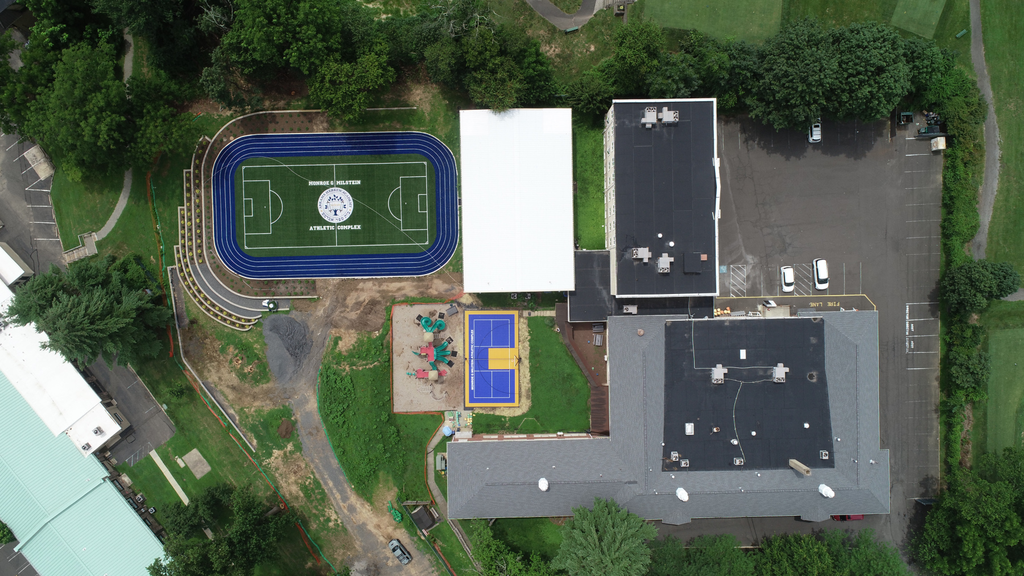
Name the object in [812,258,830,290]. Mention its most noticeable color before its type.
white car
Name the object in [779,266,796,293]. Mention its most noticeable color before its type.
white car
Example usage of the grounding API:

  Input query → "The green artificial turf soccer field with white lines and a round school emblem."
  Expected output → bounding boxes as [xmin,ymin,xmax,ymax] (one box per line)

[234,154,436,256]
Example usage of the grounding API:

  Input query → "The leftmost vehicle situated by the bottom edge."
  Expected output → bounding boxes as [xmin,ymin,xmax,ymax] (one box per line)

[388,536,412,568]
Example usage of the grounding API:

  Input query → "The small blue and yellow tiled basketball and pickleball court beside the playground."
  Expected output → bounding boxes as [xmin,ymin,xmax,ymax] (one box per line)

[465,310,519,407]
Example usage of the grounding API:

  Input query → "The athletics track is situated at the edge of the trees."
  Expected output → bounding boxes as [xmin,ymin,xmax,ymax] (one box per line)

[211,131,459,279]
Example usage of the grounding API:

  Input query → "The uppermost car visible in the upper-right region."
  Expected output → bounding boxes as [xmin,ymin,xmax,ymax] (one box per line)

[806,115,823,145]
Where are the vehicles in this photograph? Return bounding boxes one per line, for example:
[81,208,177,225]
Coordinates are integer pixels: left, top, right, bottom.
[831,514,866,522]
[388,536,412,568]
[806,115,823,145]
[261,302,276,312]
[812,258,830,290]
[779,266,796,293]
